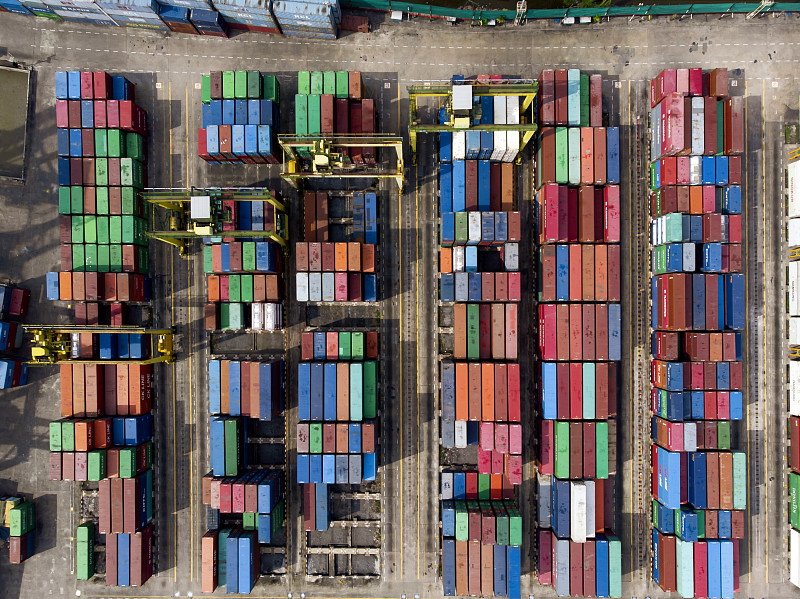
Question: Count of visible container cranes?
4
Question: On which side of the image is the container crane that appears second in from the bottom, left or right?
left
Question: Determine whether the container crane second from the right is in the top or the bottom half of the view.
top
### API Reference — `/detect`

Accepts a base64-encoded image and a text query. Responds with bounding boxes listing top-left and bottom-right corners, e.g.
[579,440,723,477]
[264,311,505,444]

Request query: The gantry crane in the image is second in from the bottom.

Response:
[137,187,287,258]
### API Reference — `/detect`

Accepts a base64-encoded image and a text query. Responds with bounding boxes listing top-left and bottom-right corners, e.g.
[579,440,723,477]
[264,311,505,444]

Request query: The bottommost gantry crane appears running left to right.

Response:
[20,319,173,366]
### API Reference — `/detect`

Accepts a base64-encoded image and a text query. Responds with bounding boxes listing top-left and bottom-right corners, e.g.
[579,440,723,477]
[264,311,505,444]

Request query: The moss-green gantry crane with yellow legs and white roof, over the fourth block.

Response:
[407,80,539,169]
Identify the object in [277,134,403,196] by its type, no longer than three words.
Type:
container crane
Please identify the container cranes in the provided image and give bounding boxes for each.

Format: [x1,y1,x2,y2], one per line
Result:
[277,134,403,196]
[407,80,539,169]
[137,187,287,258]
[20,319,173,366]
